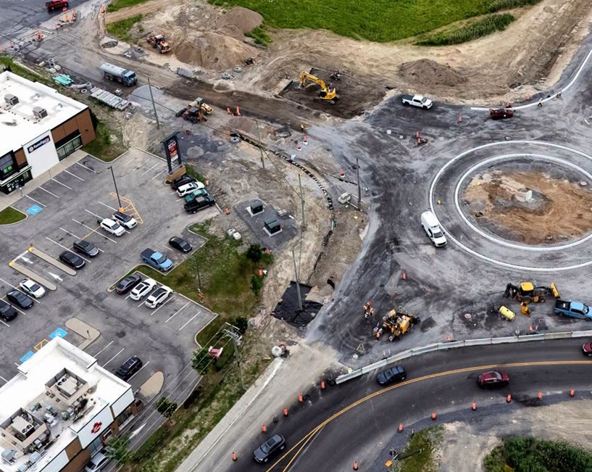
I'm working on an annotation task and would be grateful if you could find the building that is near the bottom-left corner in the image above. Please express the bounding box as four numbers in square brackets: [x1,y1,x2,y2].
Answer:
[0,337,143,472]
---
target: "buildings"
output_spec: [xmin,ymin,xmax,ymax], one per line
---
[0,337,143,472]
[0,70,96,195]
